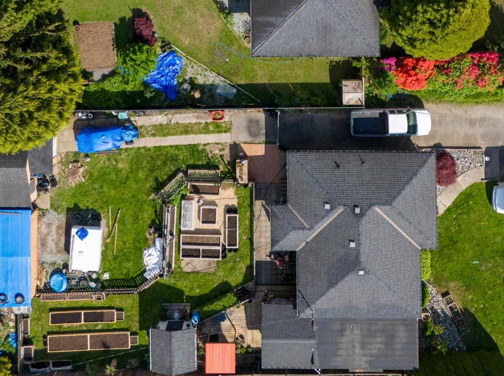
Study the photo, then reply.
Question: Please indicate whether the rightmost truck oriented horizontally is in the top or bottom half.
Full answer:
The rightmost truck oriented horizontally sits in the top half of the picture.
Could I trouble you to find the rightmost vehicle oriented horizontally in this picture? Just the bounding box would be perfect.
[348,103,431,138]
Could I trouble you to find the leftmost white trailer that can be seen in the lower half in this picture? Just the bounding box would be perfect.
[72,206,109,273]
